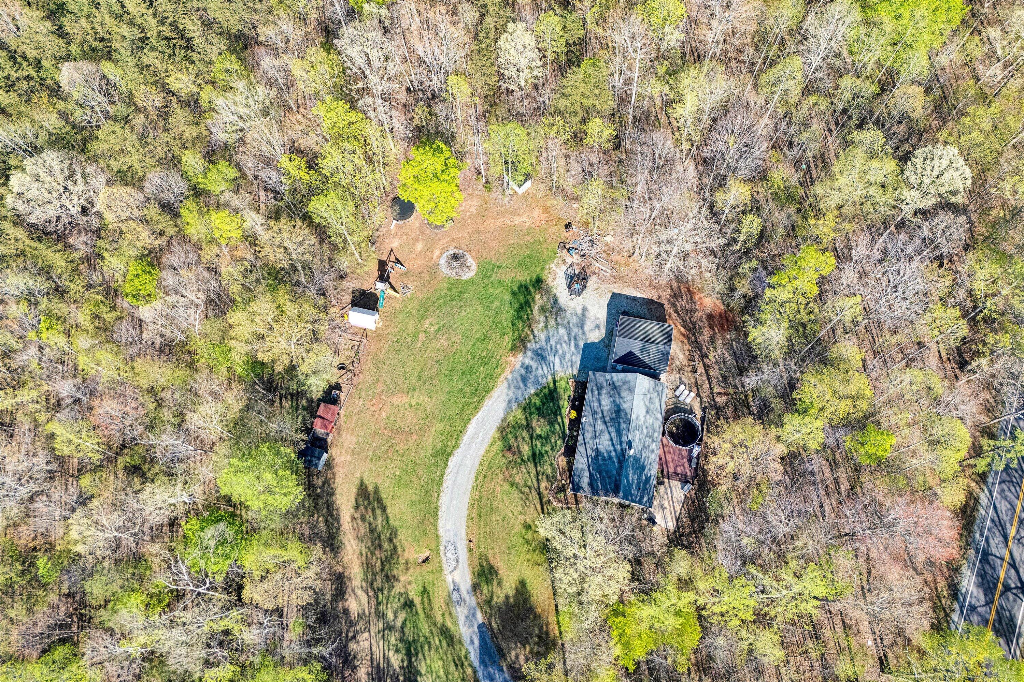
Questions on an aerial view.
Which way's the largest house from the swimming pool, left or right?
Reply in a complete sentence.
In the image, the largest house sits on the left side of the swimming pool.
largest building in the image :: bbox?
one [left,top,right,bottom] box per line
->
[569,371,668,509]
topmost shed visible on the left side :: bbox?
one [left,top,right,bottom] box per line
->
[350,307,381,326]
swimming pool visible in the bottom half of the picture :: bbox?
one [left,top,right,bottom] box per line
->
[663,412,703,451]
